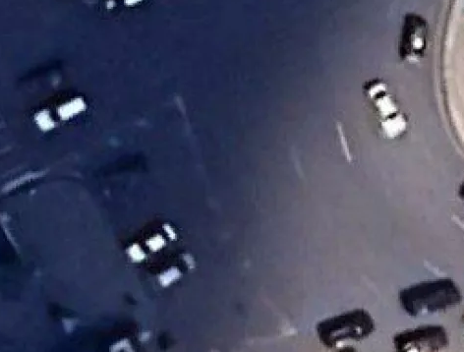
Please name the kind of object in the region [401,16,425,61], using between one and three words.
car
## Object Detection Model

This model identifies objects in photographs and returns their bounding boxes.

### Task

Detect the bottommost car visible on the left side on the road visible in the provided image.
[149,252,193,285]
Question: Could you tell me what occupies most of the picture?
paved ground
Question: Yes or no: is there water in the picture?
No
